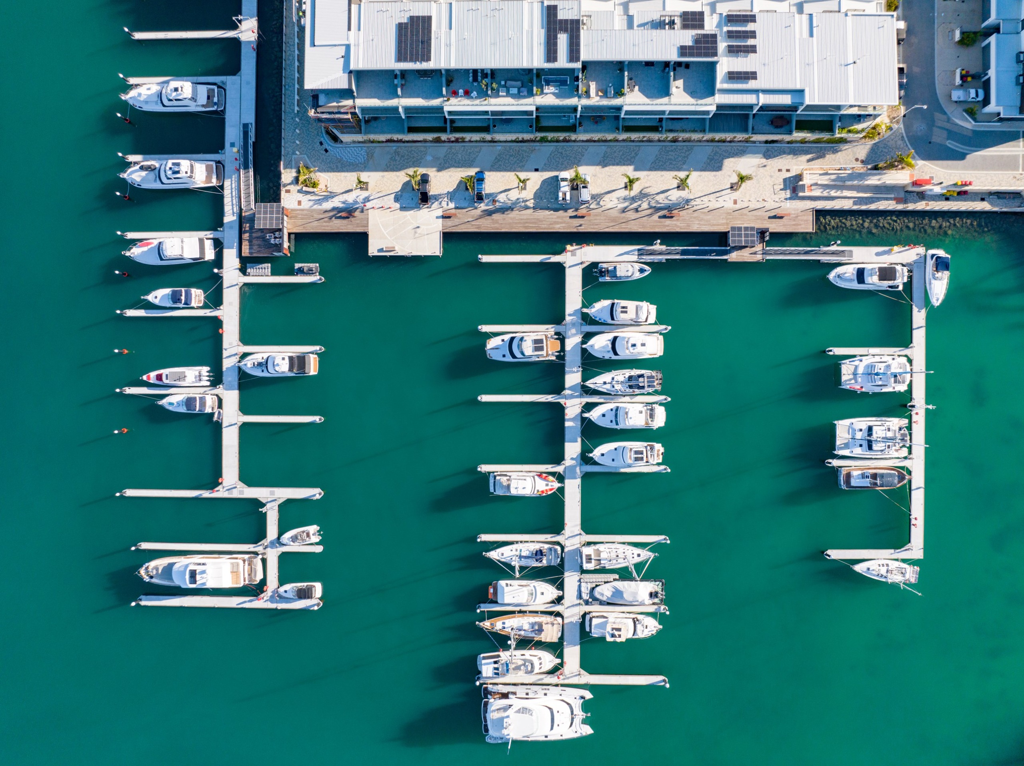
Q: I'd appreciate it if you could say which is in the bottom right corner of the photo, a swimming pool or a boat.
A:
boat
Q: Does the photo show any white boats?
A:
Yes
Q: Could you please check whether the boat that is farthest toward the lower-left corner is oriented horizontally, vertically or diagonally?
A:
horizontally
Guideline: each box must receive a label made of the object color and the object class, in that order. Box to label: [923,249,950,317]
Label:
white boat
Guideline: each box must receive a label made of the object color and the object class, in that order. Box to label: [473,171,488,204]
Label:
blue vehicle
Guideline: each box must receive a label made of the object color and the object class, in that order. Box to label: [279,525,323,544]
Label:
white boat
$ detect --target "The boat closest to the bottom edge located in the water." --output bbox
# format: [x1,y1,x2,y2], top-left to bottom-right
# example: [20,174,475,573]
[482,682,594,750]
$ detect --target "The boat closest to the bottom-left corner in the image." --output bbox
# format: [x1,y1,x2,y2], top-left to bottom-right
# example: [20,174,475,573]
[133,555,265,592]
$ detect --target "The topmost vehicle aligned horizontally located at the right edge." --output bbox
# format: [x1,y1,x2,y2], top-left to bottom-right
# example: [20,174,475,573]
[949,87,984,103]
